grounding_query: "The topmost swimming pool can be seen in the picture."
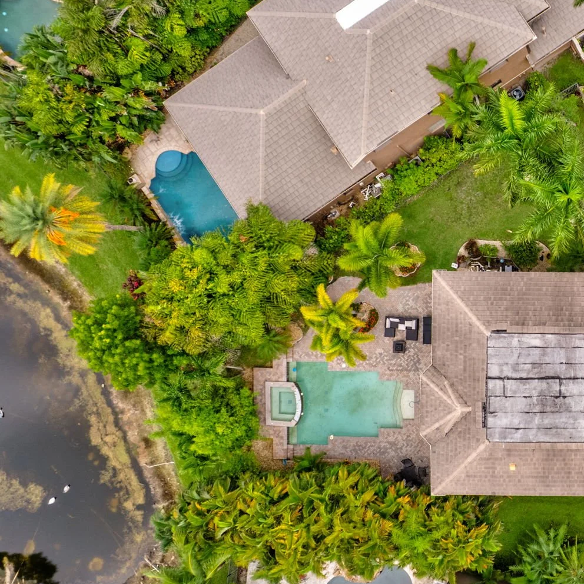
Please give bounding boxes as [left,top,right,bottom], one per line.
[0,0,66,67]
